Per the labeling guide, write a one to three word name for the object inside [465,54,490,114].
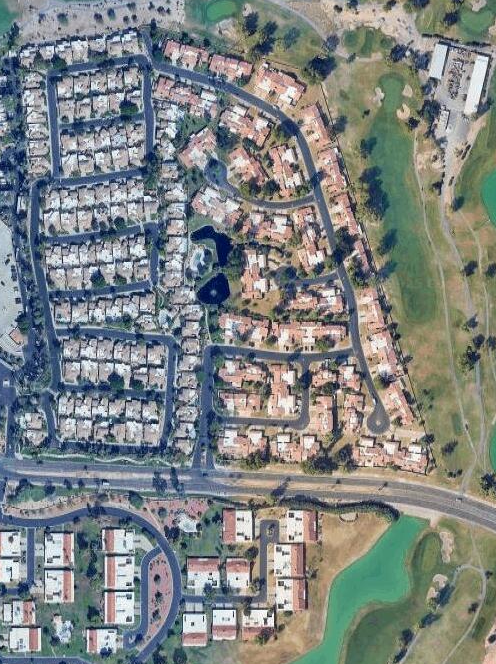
shed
